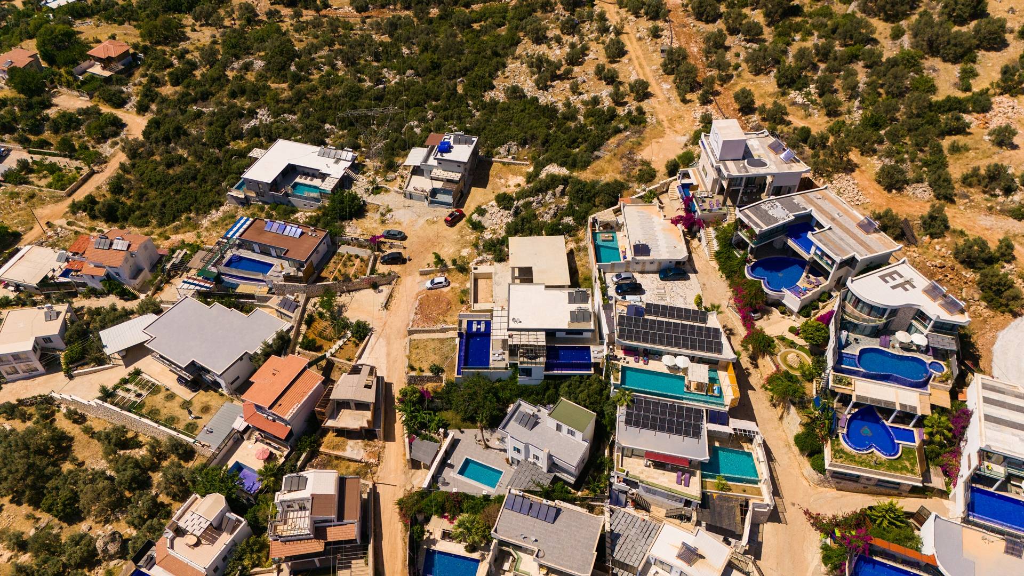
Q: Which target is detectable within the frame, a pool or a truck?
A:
pool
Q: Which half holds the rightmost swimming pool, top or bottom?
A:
bottom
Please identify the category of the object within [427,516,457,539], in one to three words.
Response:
gazebo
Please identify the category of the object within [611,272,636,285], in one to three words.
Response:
vehicle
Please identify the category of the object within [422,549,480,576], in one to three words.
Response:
swimming pool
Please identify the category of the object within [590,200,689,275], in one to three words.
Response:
house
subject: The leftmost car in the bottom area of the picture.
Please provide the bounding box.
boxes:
[175,378,203,395]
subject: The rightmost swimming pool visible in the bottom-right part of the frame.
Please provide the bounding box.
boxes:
[967,485,1024,529]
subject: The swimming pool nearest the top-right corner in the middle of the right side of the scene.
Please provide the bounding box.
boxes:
[789,224,819,254]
